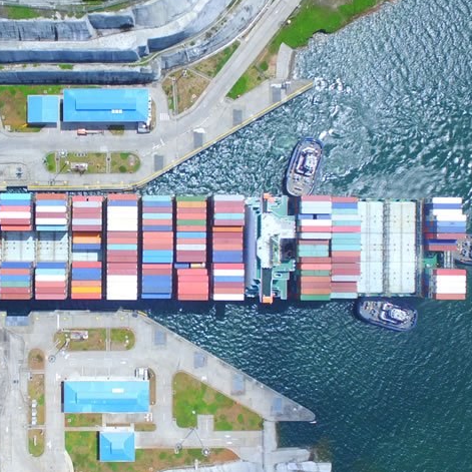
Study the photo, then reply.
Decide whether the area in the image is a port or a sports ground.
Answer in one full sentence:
This image shows a port.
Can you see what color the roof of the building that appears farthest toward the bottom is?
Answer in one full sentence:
From above, the roof of the building that appears farthest toward the bottom looks blue.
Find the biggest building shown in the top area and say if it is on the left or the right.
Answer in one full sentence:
The biggest building shown in the top area appears in the left half of the scene.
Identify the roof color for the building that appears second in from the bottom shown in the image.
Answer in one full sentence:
The roof of the building that appears second in from the bottom is blue.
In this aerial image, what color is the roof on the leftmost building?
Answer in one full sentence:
The roof over the leftmost building appears blue.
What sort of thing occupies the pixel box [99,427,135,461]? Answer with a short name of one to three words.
building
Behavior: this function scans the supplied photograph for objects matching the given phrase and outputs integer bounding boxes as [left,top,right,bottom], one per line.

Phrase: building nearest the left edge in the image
[28,95,60,124]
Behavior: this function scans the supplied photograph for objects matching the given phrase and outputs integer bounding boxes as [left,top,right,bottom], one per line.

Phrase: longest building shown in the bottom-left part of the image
[64,375,150,412]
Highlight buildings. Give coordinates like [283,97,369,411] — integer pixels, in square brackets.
[64,89,151,126]
[99,427,135,461]
[64,375,150,412]
[28,95,60,124]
